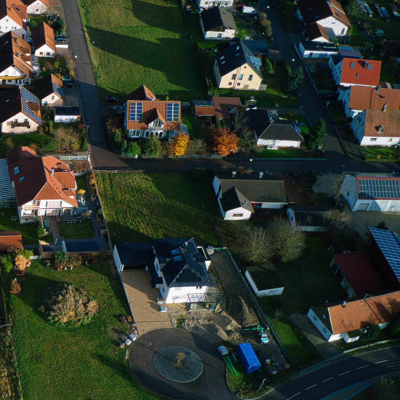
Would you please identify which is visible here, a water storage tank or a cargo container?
cargo container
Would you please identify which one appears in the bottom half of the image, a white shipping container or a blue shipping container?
blue shipping container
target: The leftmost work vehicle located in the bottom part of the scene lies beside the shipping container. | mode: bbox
[258,318,272,343]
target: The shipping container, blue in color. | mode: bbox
[236,340,265,373]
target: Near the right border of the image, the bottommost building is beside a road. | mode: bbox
[311,290,400,346]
